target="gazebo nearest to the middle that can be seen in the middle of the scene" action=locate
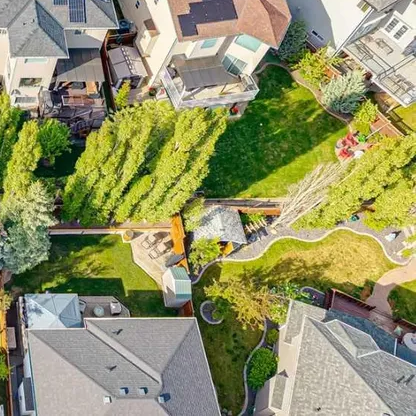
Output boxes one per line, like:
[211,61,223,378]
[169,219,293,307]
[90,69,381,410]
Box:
[187,200,250,251]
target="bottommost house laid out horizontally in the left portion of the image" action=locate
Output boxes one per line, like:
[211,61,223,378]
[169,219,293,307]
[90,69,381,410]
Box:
[22,317,230,416]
